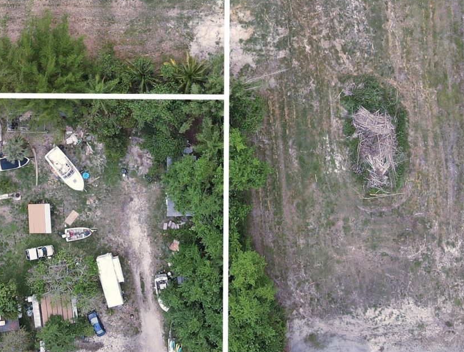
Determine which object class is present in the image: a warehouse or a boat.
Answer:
boat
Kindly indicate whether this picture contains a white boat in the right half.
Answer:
No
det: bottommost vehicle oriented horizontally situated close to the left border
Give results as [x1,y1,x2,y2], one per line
[22,244,57,260]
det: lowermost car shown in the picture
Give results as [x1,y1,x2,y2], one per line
[87,309,106,337]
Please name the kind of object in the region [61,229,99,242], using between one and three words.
boat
